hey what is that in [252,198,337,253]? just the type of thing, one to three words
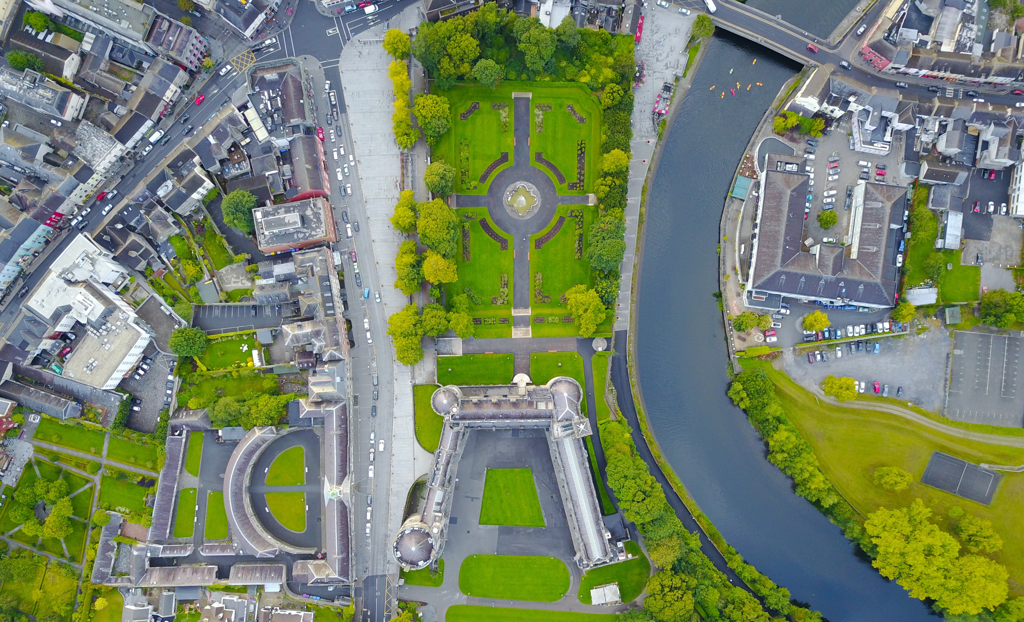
building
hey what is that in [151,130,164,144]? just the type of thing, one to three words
vehicle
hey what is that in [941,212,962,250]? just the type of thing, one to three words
shed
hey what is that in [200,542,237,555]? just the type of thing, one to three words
house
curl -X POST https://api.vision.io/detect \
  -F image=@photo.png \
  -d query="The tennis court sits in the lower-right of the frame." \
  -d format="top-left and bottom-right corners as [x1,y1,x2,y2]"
[921,450,1006,508]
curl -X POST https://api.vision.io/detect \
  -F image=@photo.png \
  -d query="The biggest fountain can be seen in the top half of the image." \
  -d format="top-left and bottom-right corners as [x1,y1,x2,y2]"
[503,181,541,219]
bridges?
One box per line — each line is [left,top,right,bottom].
[710,0,825,69]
